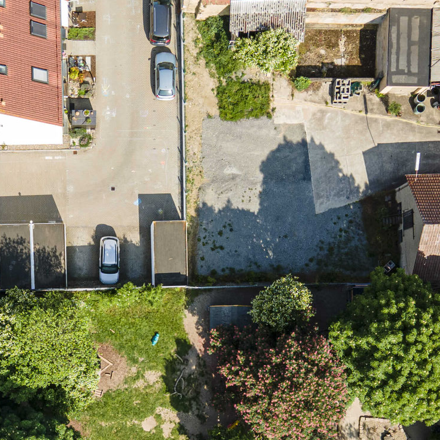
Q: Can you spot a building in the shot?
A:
Yes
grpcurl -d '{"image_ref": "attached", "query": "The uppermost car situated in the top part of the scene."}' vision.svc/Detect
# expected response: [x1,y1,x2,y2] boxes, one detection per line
[147,0,174,49]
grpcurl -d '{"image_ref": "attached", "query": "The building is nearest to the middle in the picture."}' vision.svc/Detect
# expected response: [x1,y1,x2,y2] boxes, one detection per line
[152,220,187,289]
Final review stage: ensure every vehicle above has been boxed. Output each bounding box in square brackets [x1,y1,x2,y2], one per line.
[96,234,122,285]
[147,0,174,49]
[153,54,178,103]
